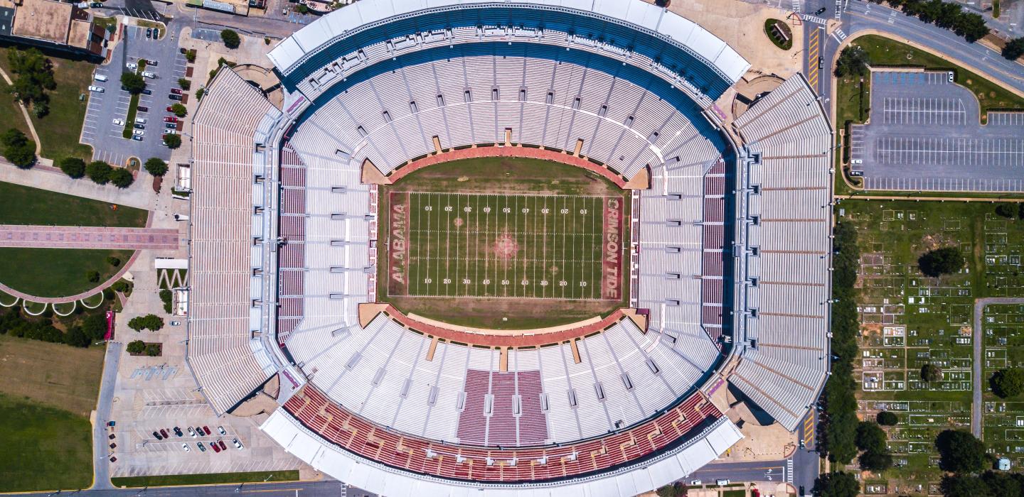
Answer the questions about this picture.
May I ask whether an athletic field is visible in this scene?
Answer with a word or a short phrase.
Yes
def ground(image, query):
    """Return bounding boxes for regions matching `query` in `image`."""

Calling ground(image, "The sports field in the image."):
[378,156,631,331]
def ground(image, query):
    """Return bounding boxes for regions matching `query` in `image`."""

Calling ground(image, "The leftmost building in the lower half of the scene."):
[171,286,187,316]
